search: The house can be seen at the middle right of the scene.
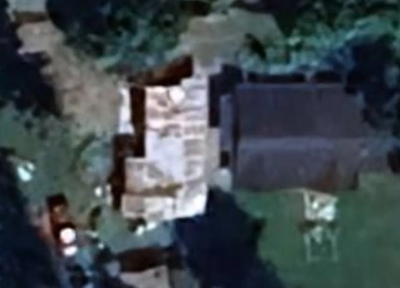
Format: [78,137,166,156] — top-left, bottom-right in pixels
[220,84,391,191]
